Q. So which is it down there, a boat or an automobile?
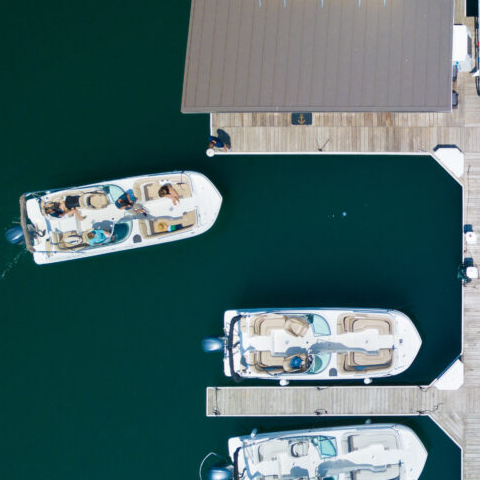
boat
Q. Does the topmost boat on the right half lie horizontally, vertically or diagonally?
horizontally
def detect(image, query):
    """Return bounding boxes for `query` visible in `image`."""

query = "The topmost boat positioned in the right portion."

[200,307,422,380]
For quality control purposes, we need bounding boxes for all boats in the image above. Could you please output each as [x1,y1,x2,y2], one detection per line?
[200,307,422,380]
[206,421,427,480]
[7,170,222,266]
